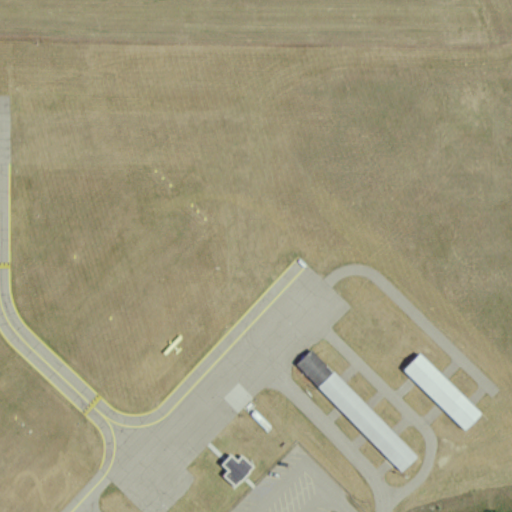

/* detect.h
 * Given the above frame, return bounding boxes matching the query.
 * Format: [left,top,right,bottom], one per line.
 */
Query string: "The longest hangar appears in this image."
[297,351,418,472]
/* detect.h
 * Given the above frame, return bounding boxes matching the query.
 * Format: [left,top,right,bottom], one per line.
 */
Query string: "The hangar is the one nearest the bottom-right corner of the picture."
[404,354,482,432]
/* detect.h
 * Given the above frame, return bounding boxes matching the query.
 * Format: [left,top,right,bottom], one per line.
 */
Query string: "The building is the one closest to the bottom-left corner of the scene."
[222,456,254,488]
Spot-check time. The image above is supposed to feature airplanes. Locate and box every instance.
[164,336,182,354]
